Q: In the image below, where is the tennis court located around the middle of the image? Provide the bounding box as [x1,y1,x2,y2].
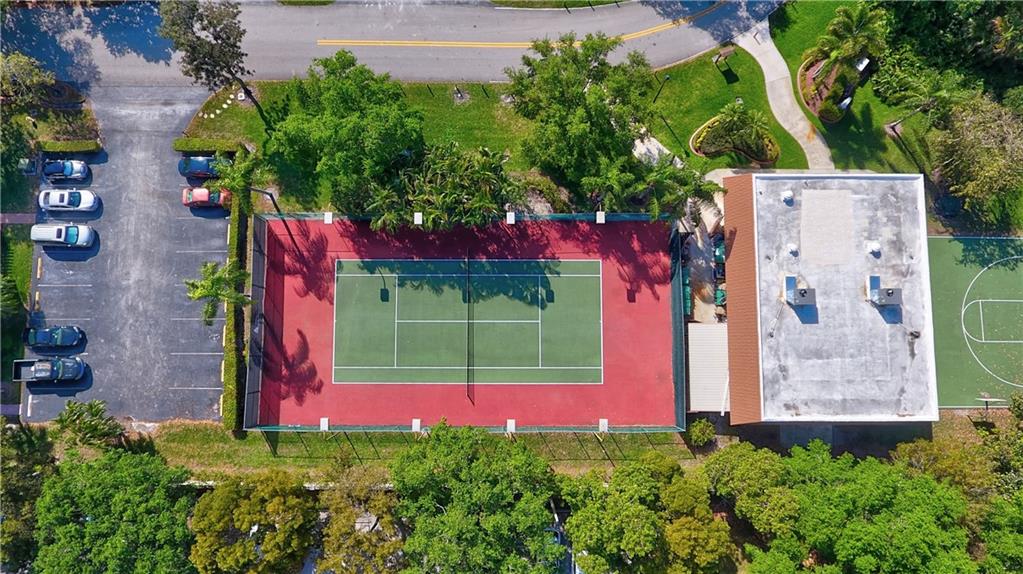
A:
[260,220,674,425]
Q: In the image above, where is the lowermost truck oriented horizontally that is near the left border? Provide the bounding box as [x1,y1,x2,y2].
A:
[11,357,88,383]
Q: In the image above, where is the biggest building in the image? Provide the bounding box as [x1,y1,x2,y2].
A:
[713,174,938,428]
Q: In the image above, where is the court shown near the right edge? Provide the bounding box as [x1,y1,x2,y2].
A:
[927,238,1023,406]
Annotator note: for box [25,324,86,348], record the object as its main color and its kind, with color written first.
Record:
blue car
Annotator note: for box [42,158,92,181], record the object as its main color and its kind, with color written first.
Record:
blue car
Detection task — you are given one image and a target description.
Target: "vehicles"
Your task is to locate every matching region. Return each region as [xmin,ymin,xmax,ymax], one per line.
[184,186,229,209]
[180,155,236,180]
[25,324,86,348]
[11,357,88,383]
[29,223,98,248]
[42,158,92,181]
[39,188,101,213]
